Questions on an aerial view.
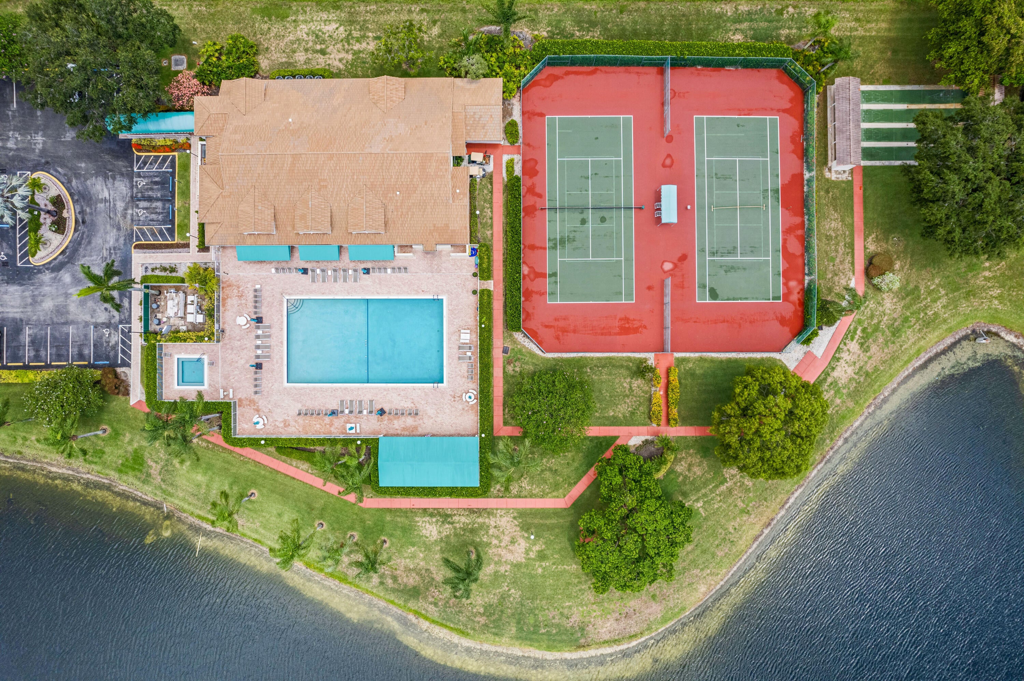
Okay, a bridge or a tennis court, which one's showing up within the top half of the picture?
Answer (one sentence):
The feature located within the top half of the picture is a tennis court.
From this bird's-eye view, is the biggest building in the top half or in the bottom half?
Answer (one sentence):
Seen from above, the biggest building lies in the top half of the view.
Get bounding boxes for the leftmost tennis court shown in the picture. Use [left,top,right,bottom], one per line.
[522,66,664,352]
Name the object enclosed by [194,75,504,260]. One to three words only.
building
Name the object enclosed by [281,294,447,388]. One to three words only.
swimming pool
